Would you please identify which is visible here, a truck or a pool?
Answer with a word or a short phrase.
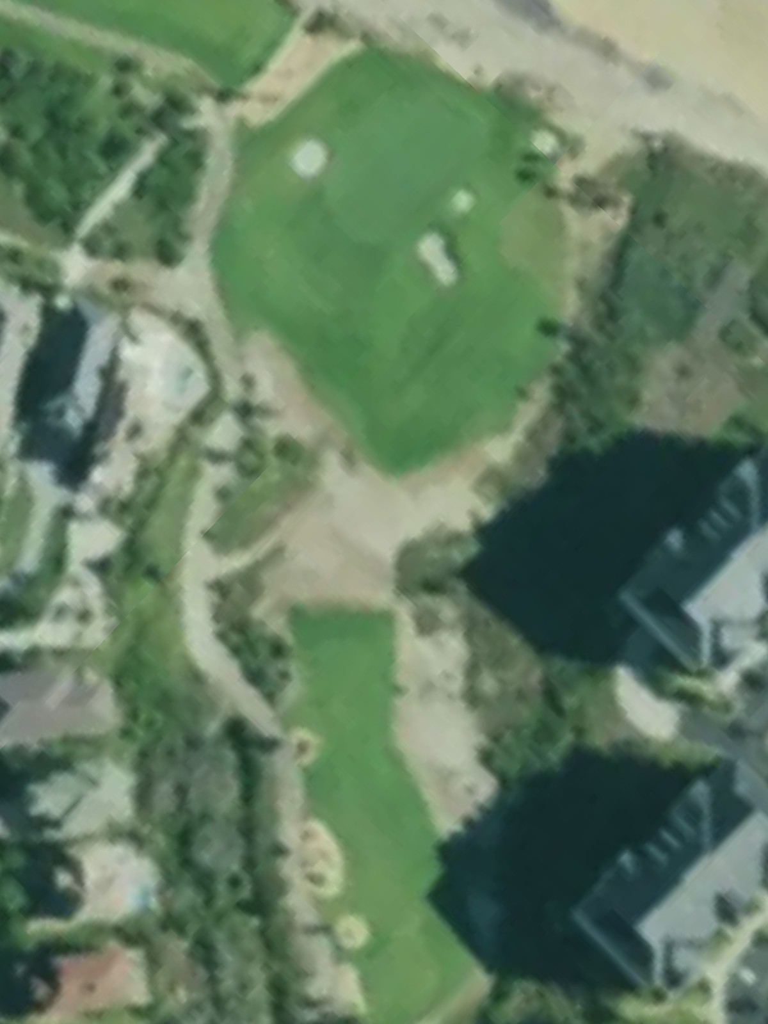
pool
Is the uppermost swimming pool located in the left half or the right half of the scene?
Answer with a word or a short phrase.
left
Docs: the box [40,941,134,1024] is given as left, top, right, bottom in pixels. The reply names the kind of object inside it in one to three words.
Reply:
house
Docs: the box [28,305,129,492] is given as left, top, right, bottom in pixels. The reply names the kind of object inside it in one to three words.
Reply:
building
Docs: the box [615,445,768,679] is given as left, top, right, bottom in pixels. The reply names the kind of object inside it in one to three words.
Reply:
building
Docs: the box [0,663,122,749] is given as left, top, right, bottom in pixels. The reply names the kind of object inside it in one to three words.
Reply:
house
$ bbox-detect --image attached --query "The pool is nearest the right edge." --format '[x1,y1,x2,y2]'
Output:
[169,365,196,395]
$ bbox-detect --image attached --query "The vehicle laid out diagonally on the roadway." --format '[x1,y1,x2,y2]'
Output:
[737,968,756,986]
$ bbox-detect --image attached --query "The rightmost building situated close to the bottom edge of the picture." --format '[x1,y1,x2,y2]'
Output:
[564,752,768,992]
